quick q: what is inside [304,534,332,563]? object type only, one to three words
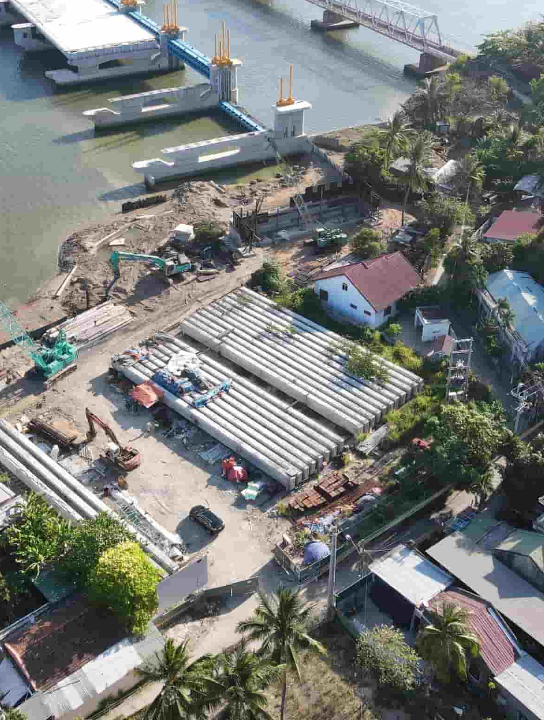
water tank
